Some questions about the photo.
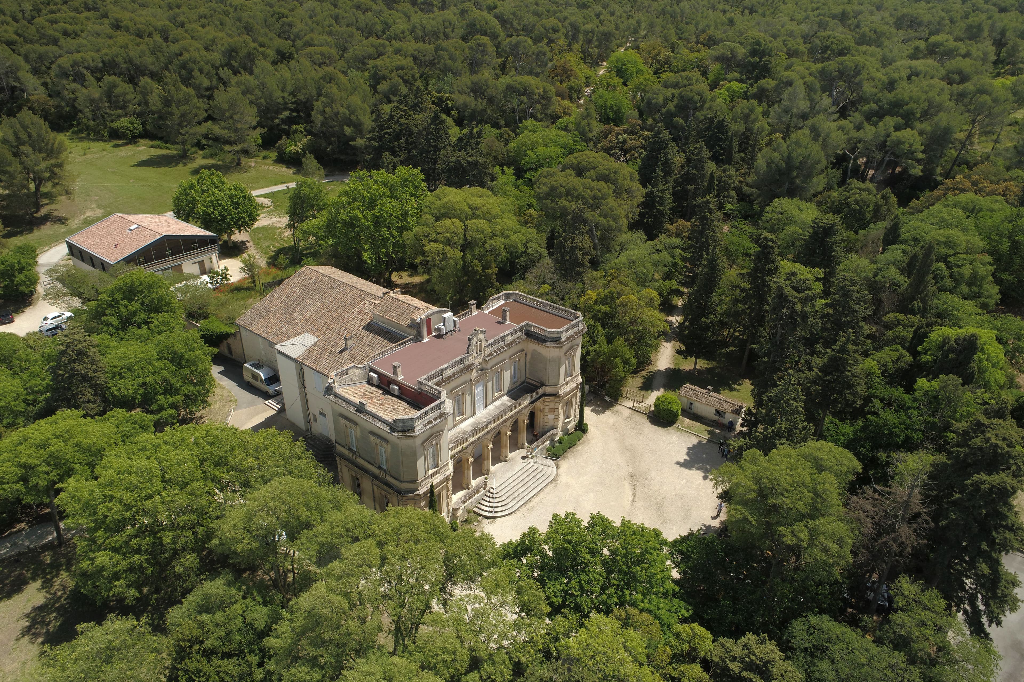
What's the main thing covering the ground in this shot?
trees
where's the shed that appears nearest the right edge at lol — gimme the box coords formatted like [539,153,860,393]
[677,380,753,430]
